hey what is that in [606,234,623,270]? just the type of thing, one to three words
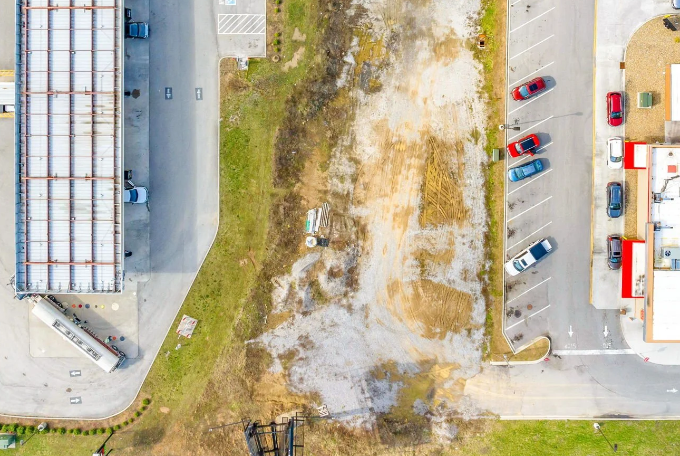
car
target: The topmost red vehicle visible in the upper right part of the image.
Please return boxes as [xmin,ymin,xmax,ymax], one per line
[510,76,547,102]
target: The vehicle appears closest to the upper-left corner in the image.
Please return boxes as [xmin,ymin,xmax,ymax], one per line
[125,20,150,38]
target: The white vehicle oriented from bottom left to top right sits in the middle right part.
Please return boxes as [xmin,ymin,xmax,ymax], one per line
[506,239,555,274]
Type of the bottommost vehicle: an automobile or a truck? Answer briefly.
truck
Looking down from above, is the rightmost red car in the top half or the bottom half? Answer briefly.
top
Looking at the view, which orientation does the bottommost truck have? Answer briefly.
on a diagonal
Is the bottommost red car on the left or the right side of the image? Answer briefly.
right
